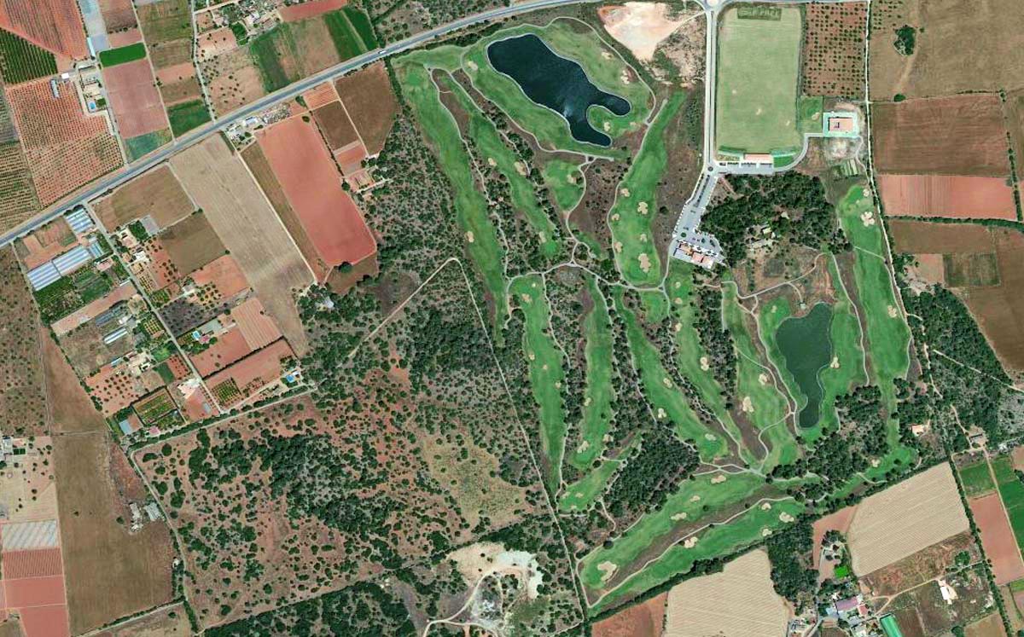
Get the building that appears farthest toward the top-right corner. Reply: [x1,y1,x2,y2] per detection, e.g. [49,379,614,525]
[821,111,861,138]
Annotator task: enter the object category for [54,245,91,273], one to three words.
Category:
greenhouse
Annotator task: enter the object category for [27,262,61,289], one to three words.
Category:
greenhouse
